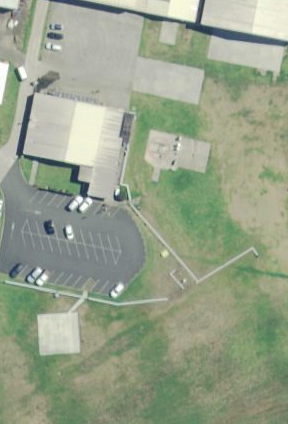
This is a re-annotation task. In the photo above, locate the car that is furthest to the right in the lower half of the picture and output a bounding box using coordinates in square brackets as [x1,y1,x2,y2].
[110,282,124,298]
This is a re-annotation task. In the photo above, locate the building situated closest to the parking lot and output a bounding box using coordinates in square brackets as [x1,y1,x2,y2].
[22,92,124,200]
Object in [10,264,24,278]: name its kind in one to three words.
car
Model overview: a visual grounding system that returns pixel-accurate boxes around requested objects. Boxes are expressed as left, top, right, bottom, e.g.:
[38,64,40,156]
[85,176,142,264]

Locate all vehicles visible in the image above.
[27,268,42,282]
[10,264,24,278]
[78,198,92,212]
[36,270,51,286]
[66,226,73,240]
[49,24,63,30]
[110,282,124,298]
[46,32,62,40]
[68,196,83,210]
[16,64,28,83]
[46,220,54,234]
[45,43,61,50]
